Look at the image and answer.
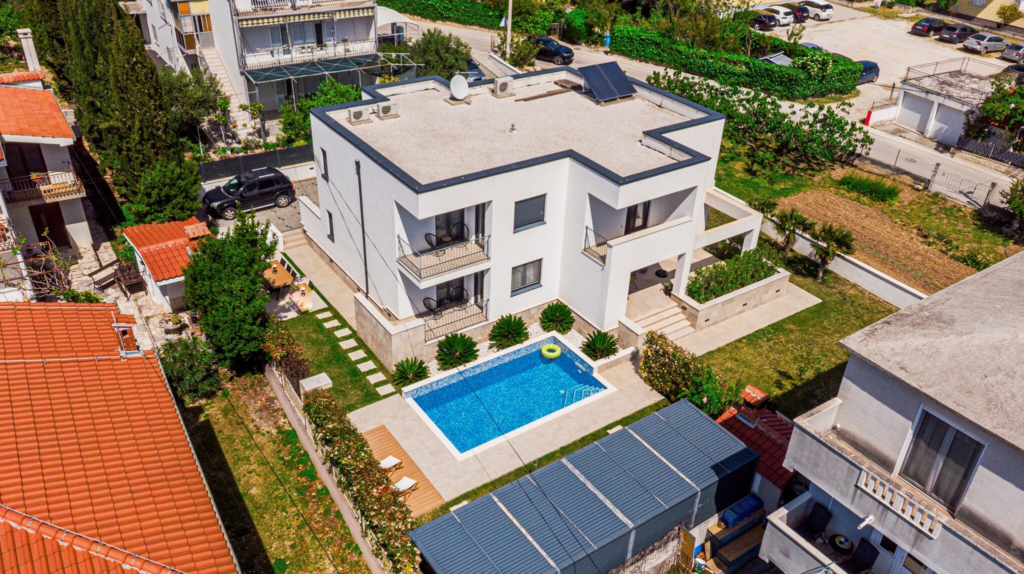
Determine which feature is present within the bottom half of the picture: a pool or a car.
pool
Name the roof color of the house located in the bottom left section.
orange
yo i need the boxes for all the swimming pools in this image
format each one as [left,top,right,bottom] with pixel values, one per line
[401,330,641,462]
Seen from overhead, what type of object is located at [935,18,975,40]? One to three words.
car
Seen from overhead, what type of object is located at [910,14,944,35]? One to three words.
car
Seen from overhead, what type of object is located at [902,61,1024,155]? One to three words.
building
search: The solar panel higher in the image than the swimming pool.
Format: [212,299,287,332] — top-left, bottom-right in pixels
[579,64,631,107]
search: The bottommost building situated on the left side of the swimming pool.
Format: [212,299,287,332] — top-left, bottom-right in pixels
[0,298,251,574]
